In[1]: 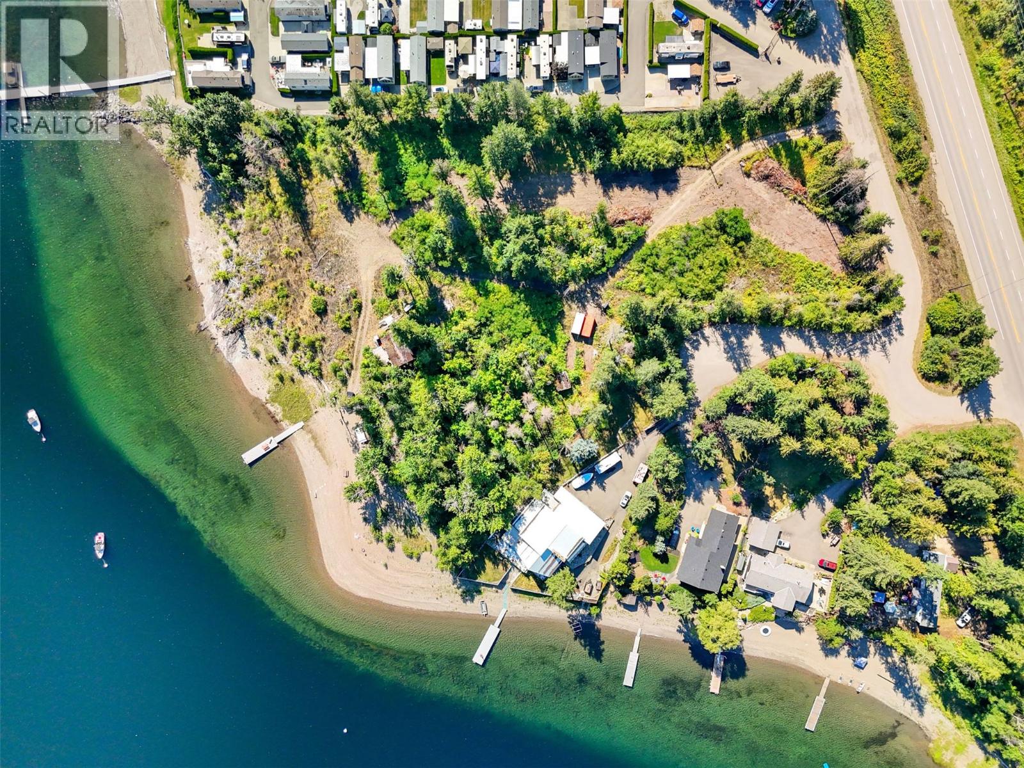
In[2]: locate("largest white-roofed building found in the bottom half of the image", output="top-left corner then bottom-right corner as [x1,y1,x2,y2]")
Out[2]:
[484,484,610,577]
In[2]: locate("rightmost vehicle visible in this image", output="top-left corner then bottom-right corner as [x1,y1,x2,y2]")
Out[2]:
[954,610,973,629]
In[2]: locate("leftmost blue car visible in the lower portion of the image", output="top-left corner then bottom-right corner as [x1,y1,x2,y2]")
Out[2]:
[668,529,680,549]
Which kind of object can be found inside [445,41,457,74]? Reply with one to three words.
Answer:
vehicle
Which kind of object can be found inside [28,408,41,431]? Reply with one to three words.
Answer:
boat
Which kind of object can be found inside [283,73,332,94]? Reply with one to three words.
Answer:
house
